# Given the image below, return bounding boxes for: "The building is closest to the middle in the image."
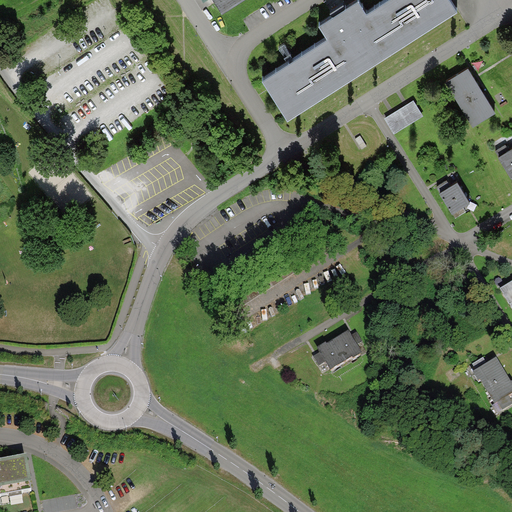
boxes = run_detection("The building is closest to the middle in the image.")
[312,329,366,374]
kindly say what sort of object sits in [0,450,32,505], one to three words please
building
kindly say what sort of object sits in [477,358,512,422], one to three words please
house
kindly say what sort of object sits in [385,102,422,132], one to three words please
building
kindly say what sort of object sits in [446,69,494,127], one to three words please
house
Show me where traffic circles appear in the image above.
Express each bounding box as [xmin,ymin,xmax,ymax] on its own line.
[74,354,150,430]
